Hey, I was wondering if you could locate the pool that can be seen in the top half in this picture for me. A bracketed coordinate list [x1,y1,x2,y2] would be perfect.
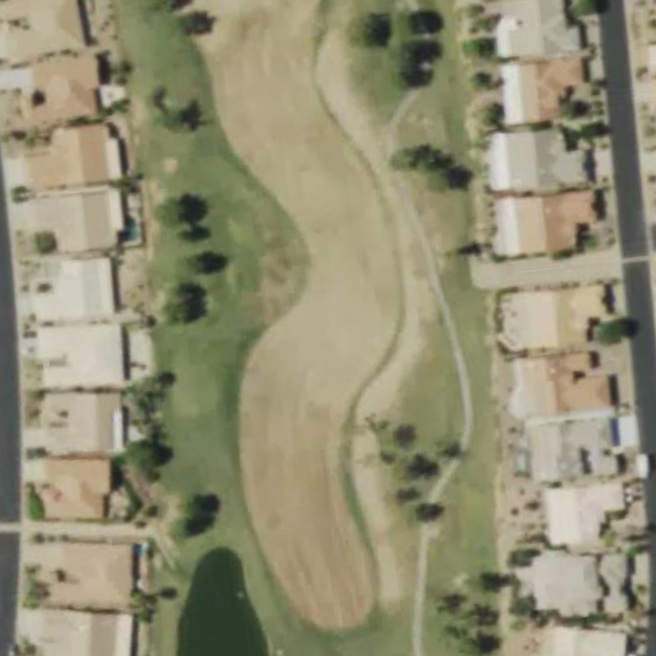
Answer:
[124,214,138,243]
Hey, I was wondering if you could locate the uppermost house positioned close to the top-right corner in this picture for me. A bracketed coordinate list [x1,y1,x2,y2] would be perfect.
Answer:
[496,0,585,59]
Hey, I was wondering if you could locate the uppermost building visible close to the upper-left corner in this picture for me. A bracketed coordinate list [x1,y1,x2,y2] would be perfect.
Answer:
[0,0,84,58]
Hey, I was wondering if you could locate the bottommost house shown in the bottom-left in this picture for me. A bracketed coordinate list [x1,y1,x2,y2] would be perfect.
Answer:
[41,609,132,656]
